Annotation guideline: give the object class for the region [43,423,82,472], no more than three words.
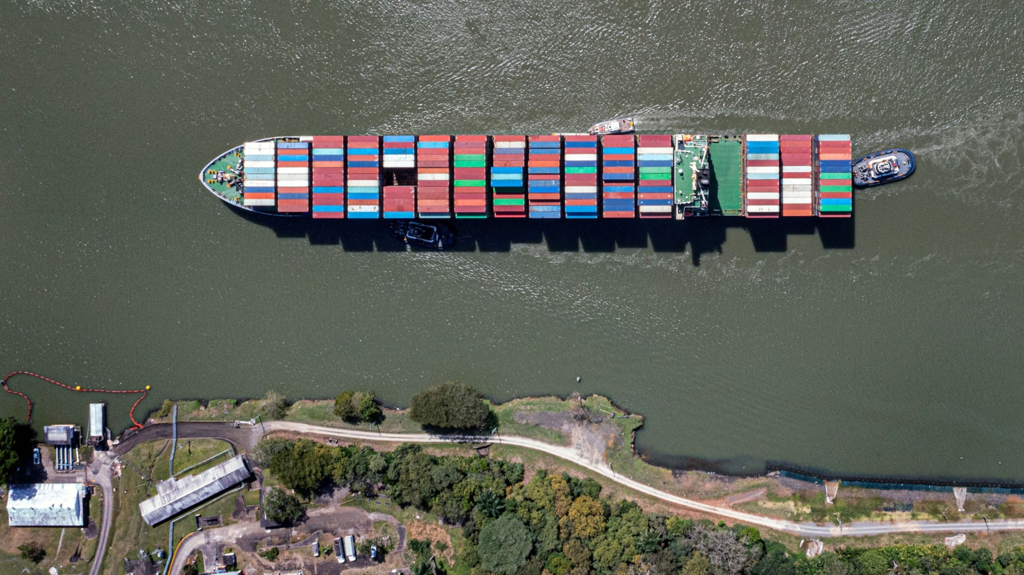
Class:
building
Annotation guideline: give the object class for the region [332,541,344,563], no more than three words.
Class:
vehicle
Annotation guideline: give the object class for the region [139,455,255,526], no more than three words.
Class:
shed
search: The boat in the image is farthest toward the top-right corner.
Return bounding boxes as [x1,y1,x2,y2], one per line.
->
[847,150,915,187]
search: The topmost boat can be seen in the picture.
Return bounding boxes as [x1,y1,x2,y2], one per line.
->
[589,118,637,135]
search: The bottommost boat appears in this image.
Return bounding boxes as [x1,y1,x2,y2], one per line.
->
[387,217,458,249]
